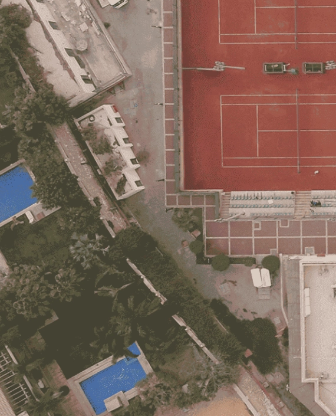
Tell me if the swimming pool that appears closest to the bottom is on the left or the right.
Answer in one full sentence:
The swimming pool that appears closest to the bottom appears in the left half of the scene.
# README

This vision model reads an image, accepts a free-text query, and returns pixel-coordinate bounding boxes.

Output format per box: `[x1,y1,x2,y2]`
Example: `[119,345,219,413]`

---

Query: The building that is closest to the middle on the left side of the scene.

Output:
[75,105,156,211]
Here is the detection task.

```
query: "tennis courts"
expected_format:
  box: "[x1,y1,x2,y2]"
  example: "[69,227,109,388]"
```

[181,0,336,69]
[183,69,336,219]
